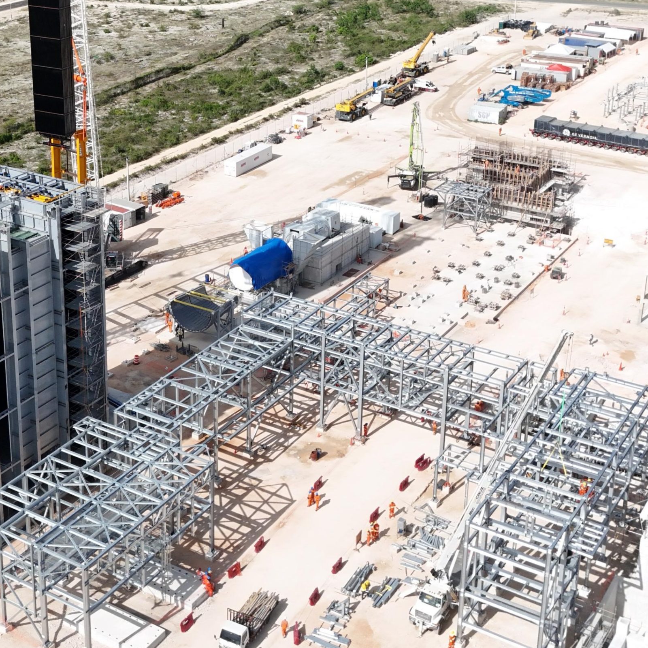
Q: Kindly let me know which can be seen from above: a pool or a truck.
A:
truck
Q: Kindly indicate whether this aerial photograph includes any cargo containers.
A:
Yes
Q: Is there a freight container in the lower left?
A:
No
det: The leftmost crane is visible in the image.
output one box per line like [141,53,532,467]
[73,0,152,293]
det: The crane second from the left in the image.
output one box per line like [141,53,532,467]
[337,77,370,117]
